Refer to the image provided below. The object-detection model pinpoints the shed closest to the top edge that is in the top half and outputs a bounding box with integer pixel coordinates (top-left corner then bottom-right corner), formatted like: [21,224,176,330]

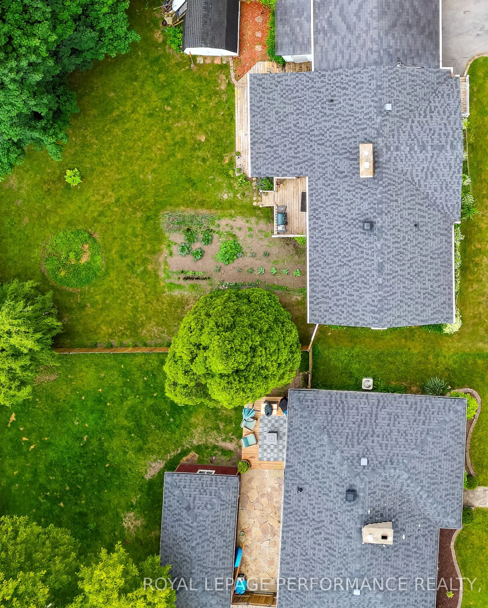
[184,0,242,58]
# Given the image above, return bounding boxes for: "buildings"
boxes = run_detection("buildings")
[184,0,242,58]
[247,0,466,330]
[162,463,242,608]
[276,385,467,608]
